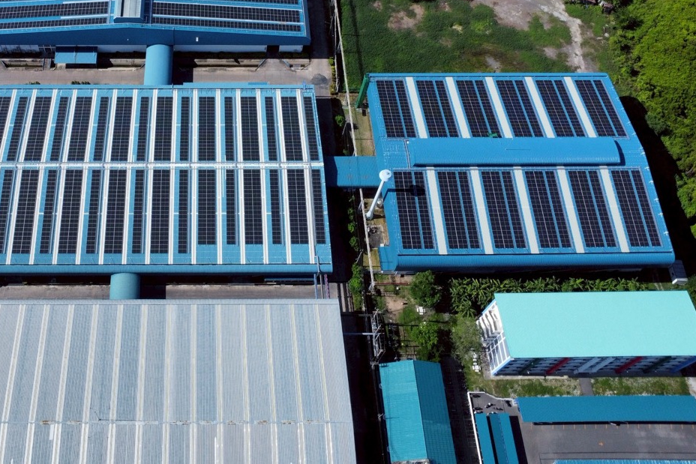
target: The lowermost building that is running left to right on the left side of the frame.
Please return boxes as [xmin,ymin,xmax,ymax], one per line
[0,301,356,464]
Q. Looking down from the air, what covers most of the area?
buildings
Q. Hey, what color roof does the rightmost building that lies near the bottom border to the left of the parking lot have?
blue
